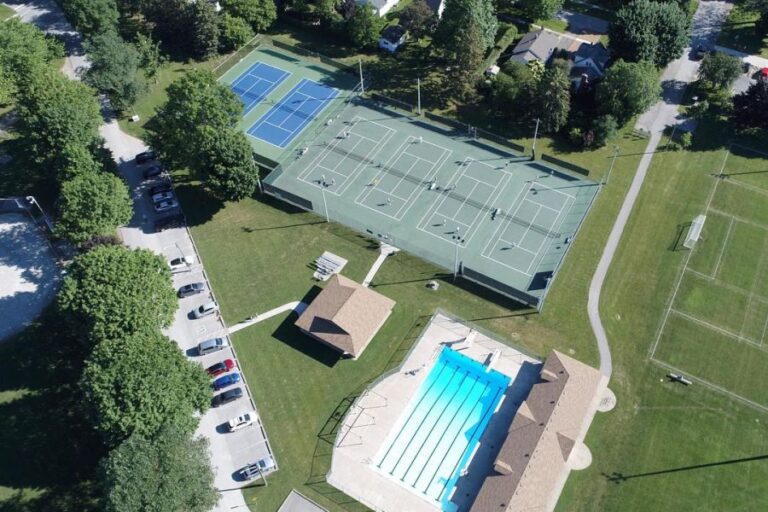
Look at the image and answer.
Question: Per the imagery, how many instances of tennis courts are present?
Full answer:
I count 6 tennis courts.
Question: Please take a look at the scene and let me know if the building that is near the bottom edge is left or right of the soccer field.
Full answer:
You can see the building that is near the bottom edge positioned to the left of the soccer field.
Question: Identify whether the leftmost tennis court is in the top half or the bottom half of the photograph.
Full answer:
You can find the leftmost tennis court in the top half.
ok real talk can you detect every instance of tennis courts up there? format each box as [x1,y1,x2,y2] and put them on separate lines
[247,78,340,148]
[355,136,452,220]
[298,116,395,196]
[213,61,292,126]
[416,157,512,247]
[480,180,577,277]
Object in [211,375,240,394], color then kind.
blue car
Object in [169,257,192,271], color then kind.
white car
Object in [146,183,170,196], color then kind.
black vehicle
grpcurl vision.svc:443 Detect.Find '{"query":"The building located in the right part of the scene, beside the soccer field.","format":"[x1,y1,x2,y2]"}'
[472,349,602,512]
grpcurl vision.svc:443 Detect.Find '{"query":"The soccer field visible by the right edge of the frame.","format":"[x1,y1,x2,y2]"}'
[651,150,768,415]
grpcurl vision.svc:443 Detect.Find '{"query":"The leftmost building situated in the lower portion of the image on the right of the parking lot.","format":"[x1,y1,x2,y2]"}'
[293,274,397,364]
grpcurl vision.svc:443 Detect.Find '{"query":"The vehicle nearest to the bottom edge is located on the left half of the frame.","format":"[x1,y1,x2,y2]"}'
[238,456,276,481]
